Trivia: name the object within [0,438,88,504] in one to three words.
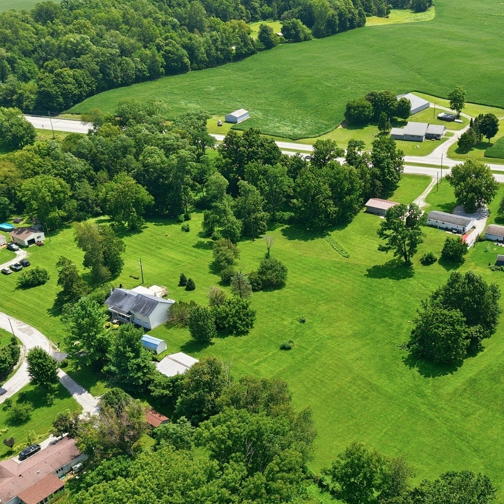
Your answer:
house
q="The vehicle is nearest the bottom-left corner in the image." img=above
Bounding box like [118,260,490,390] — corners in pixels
[15,439,43,459]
